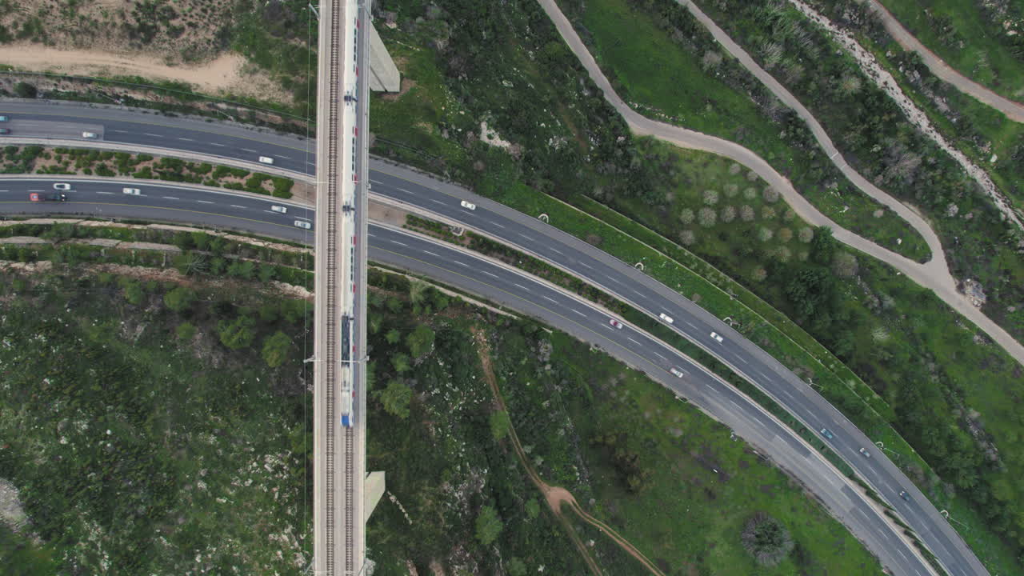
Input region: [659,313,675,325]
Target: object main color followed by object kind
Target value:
white vehicle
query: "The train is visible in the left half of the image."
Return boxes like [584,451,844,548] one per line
[340,0,362,425]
